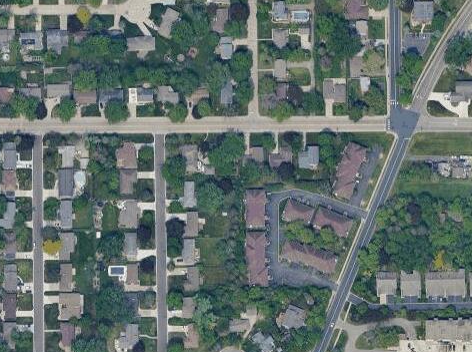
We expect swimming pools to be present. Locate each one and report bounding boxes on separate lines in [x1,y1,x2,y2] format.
[74,172,85,183]
[108,266,127,276]
[291,11,310,22]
